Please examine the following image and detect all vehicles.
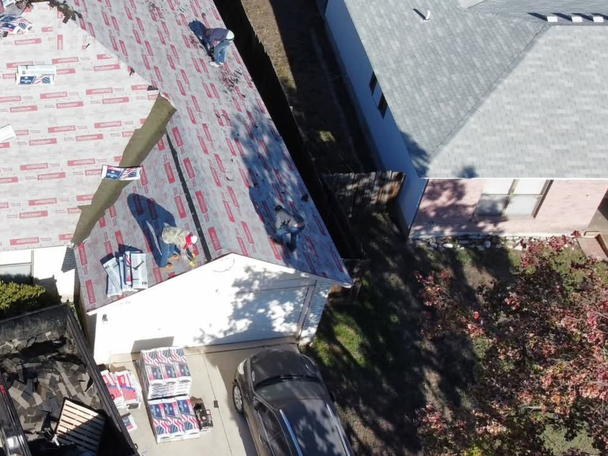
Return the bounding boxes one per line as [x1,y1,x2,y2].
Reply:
[234,341,367,456]
[0,305,139,456]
